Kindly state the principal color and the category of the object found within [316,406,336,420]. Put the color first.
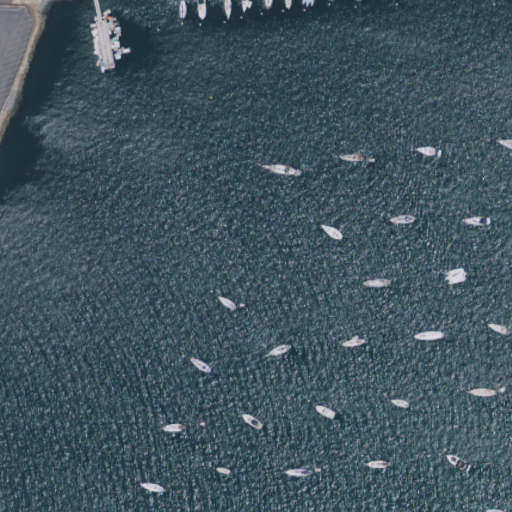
white boat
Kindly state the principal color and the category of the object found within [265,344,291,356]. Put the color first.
white boat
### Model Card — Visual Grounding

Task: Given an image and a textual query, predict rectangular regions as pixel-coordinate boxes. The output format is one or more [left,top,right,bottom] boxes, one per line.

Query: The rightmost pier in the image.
[96,0,116,70]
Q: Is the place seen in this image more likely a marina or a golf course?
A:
marina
